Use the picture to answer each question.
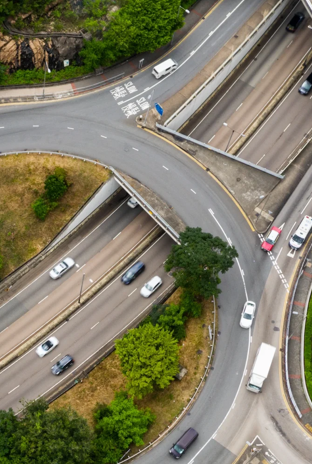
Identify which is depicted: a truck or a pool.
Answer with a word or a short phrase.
truck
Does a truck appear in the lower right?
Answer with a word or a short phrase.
Yes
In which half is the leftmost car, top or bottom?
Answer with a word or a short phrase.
bottom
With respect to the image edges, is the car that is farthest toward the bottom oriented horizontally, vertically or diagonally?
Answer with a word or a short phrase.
diagonally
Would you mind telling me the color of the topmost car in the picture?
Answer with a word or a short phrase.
black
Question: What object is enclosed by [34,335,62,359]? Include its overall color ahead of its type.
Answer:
white car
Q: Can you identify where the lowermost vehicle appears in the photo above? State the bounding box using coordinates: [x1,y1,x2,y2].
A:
[169,427,198,461]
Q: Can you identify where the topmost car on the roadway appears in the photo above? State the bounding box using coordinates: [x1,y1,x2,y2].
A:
[285,13,305,34]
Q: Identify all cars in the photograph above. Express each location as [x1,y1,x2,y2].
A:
[139,274,164,300]
[49,352,77,378]
[298,71,312,96]
[123,196,139,212]
[261,226,282,253]
[285,13,305,34]
[34,335,62,359]
[121,261,147,286]
[49,256,76,282]
[169,427,198,461]
[239,298,257,331]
